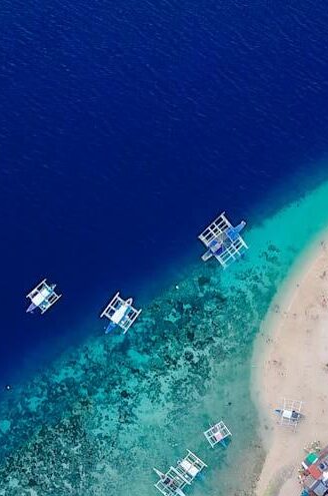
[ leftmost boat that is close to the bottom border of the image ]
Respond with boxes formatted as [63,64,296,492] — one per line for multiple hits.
[152,466,189,496]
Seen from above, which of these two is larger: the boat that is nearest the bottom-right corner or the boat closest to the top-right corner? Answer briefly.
the boat closest to the top-right corner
